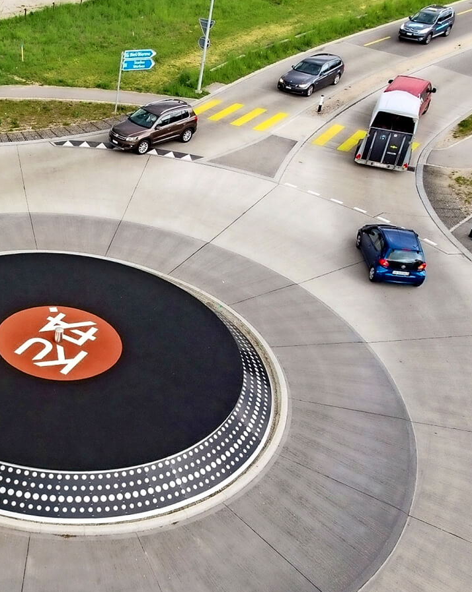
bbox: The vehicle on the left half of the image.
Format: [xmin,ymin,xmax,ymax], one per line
[107,95,201,154]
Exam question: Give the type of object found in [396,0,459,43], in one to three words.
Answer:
car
